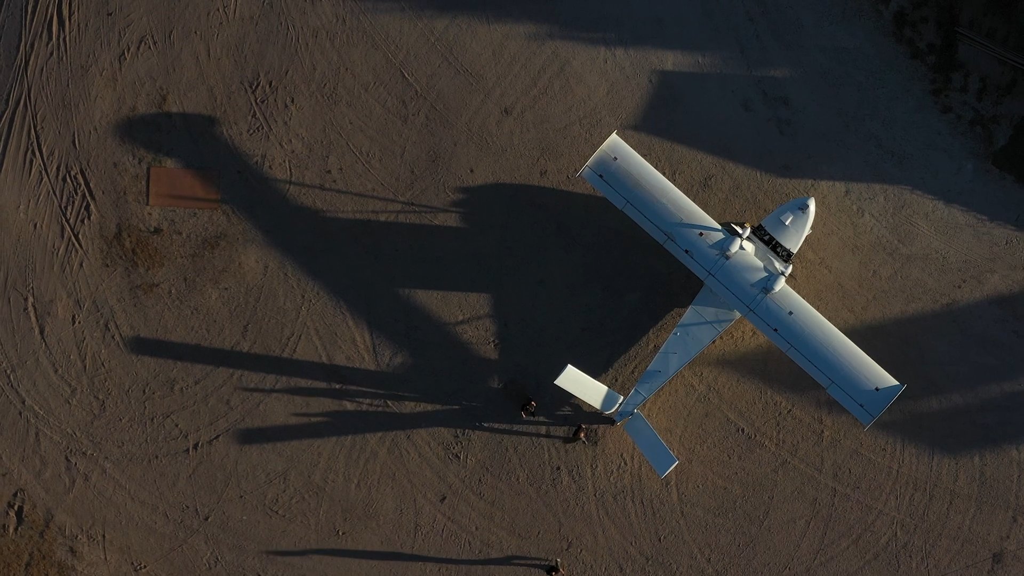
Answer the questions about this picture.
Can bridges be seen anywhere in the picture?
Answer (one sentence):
No, the frame has no bridge in it.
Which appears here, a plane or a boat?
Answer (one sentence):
Of the two, only a plane appears.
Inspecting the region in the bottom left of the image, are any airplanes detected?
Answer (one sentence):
No, I can find no airplane in the bottom left of the image.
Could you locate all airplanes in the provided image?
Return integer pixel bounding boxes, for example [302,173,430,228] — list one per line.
[555,129,911,478]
